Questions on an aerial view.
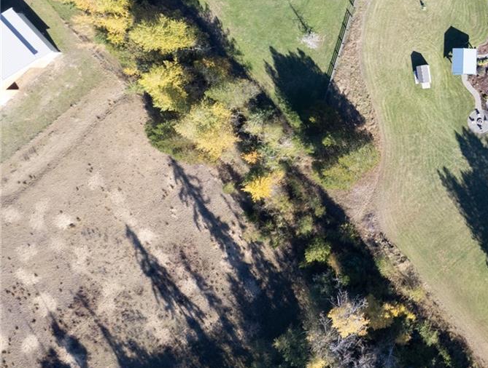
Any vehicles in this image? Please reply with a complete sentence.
No, there is no vehicle in the image.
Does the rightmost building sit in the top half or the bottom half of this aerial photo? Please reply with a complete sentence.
The rightmost building sits in the top half of the picture.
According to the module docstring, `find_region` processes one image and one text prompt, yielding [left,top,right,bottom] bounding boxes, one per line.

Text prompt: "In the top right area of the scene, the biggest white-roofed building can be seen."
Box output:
[453,48,477,74]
